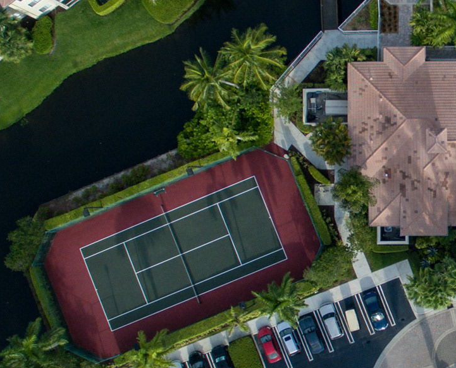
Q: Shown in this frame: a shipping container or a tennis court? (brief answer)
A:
tennis court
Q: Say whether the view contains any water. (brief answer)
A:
Yes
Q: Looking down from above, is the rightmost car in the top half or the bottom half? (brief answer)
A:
bottom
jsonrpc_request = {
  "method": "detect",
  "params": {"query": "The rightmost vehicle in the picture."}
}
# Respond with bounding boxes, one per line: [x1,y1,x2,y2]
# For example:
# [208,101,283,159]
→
[364,291,390,331]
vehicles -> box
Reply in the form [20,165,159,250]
[211,341,236,368]
[188,349,211,368]
[343,302,360,327]
[298,312,327,355]
[277,319,302,357]
[364,291,390,331]
[319,301,345,341]
[257,325,283,363]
